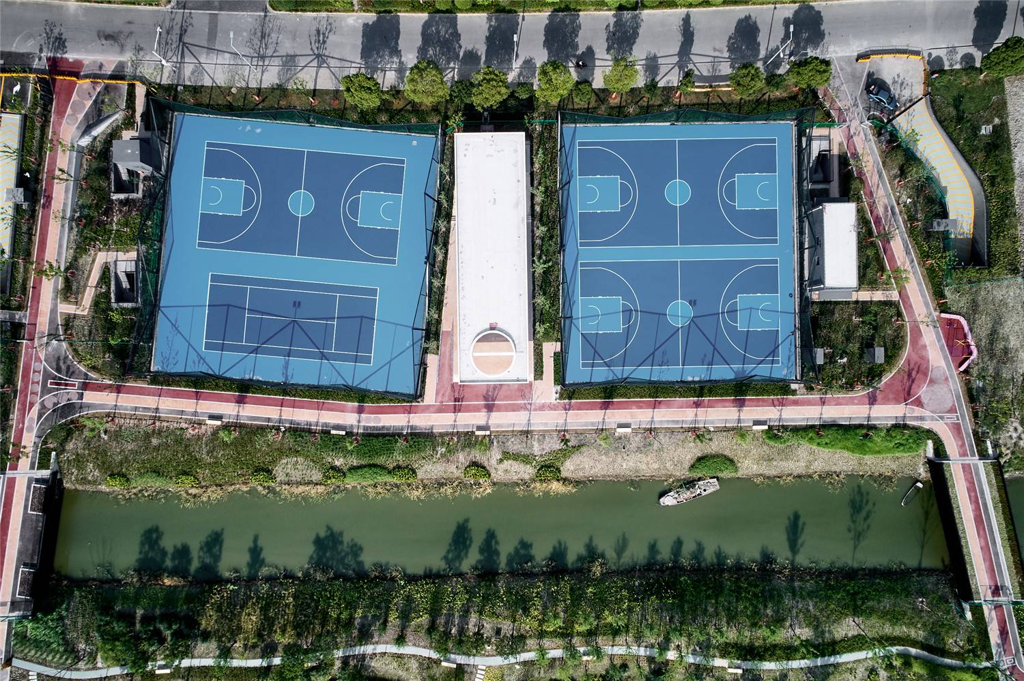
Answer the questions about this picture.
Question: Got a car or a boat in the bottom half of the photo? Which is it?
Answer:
boat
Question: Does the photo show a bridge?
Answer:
Yes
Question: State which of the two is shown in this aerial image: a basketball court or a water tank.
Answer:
basketball court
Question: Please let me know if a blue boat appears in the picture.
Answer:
No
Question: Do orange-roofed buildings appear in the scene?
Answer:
No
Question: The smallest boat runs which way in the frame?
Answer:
on a diagonal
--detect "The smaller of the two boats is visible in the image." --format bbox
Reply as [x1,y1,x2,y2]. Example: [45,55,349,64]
[901,481,924,506]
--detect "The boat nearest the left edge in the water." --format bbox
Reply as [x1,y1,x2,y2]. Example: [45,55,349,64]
[659,478,720,505]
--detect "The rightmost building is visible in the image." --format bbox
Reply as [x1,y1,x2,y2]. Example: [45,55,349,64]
[798,197,860,300]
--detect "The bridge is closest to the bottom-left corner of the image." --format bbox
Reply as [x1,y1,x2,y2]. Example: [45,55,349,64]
[0,469,62,619]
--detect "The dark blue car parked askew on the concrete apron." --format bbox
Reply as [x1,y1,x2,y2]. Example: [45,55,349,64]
[869,82,902,109]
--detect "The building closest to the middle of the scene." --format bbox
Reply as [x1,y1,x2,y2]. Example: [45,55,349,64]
[453,131,533,384]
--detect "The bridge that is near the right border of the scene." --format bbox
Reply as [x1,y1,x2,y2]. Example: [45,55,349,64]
[924,457,1024,681]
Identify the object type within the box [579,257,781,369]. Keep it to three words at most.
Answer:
basketball court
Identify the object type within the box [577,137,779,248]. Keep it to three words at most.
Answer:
basketball court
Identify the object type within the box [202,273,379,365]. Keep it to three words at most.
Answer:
tennis court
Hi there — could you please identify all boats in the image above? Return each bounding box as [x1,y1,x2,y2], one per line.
[901,481,924,506]
[659,478,720,505]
